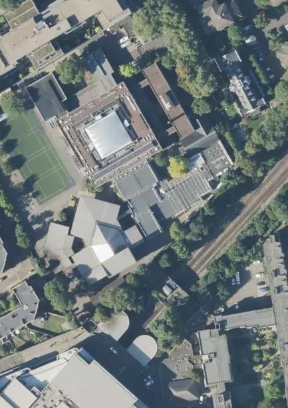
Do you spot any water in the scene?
No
